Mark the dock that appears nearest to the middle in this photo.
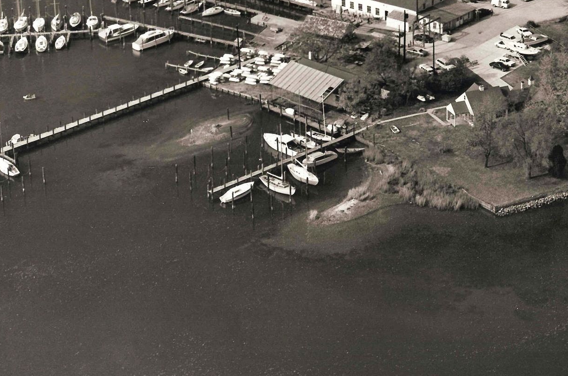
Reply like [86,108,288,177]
[208,119,385,199]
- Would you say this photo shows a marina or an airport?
marina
